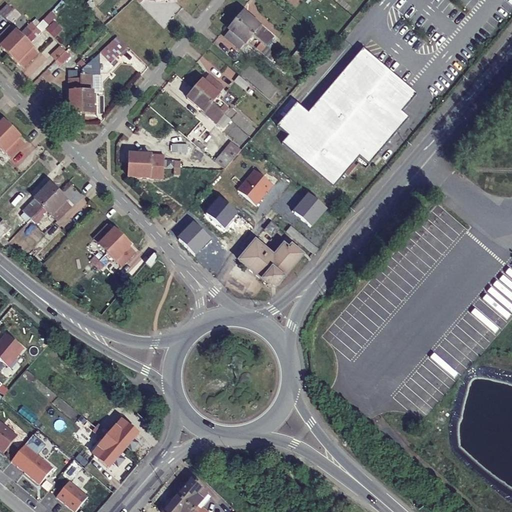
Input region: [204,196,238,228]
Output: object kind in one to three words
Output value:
house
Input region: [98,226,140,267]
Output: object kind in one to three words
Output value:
house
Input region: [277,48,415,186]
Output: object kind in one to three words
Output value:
building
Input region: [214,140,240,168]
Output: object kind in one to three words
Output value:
shed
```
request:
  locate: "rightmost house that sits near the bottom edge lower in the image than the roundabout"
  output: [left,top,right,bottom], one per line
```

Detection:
[160,477,212,512]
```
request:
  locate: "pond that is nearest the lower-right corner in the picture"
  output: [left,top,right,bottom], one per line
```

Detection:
[448,366,512,504]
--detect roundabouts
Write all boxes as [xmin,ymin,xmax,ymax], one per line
[166,310,298,440]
